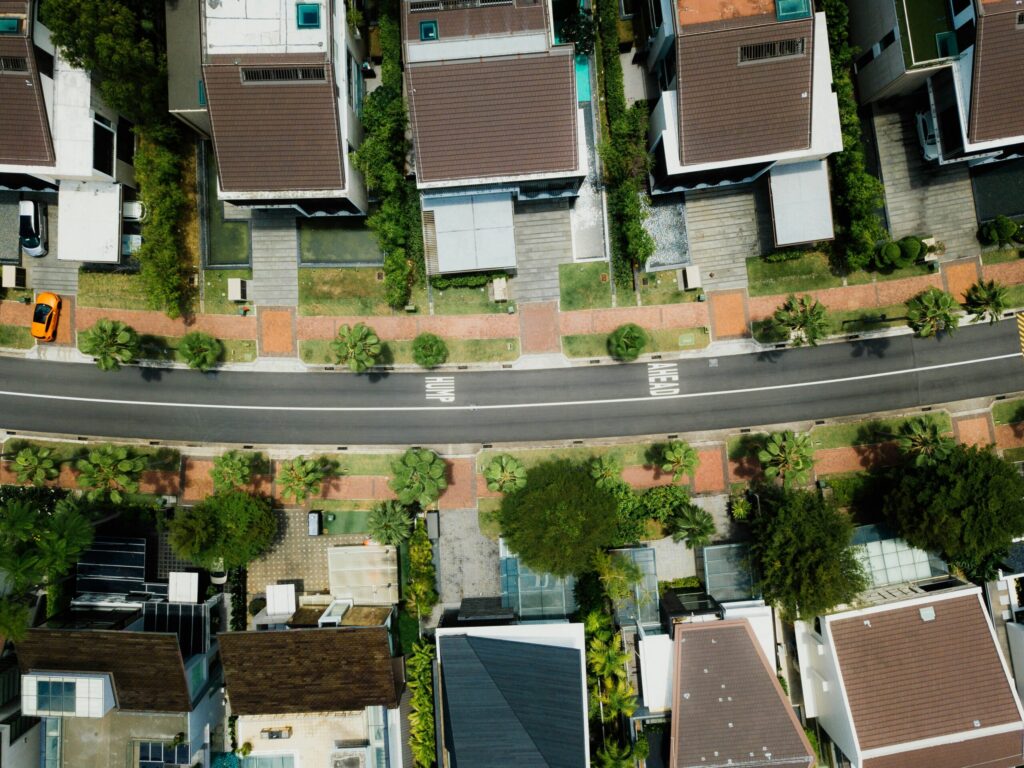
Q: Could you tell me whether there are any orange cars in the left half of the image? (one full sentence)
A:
Yes, there is an orange car in the left half of the image.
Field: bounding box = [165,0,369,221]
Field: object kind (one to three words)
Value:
house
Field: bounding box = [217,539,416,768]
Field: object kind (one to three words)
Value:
house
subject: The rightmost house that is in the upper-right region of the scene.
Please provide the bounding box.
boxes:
[854,0,1024,170]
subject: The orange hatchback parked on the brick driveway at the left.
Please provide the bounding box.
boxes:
[27,291,65,345]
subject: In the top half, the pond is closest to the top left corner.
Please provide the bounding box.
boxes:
[204,140,252,268]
